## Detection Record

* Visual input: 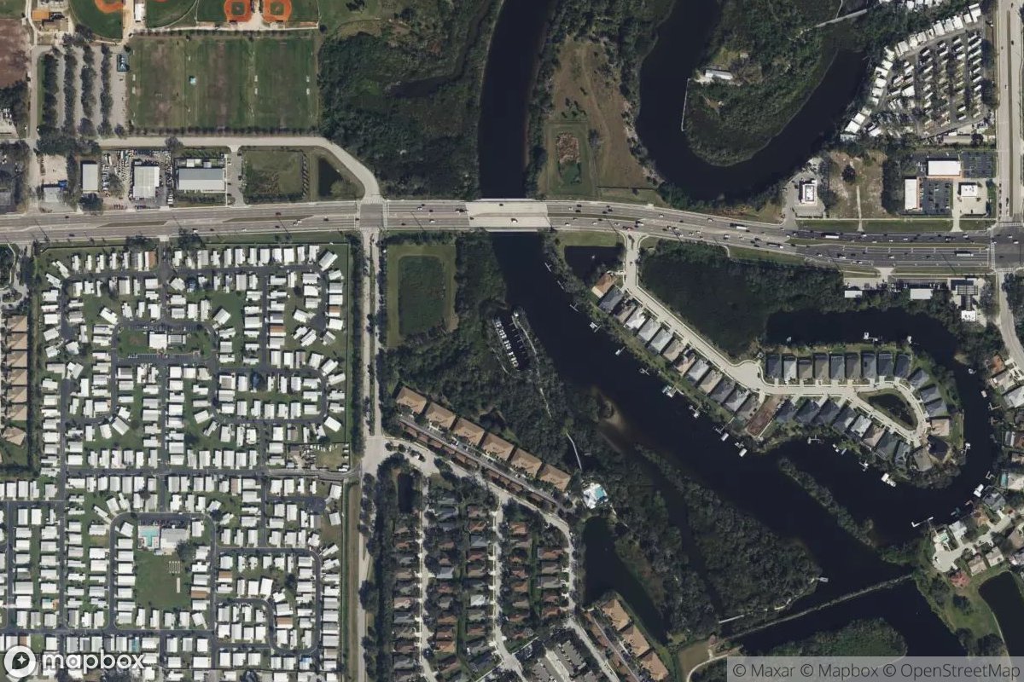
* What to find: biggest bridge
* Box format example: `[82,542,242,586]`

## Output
[466,198,551,232]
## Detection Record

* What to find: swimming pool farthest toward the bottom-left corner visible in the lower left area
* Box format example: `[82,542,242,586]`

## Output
[138,526,160,549]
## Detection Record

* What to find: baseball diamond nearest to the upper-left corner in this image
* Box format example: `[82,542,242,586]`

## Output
[71,0,123,39]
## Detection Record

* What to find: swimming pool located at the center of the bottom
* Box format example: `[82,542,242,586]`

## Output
[583,484,608,509]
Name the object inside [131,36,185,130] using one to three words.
soccer field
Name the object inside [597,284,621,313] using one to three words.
house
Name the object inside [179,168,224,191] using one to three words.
building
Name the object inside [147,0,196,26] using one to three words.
baseball field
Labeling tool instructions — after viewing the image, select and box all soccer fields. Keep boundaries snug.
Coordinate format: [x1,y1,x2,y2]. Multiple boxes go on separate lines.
[253,39,317,130]
[185,39,255,130]
[131,36,185,130]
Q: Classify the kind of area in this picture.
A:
residential area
